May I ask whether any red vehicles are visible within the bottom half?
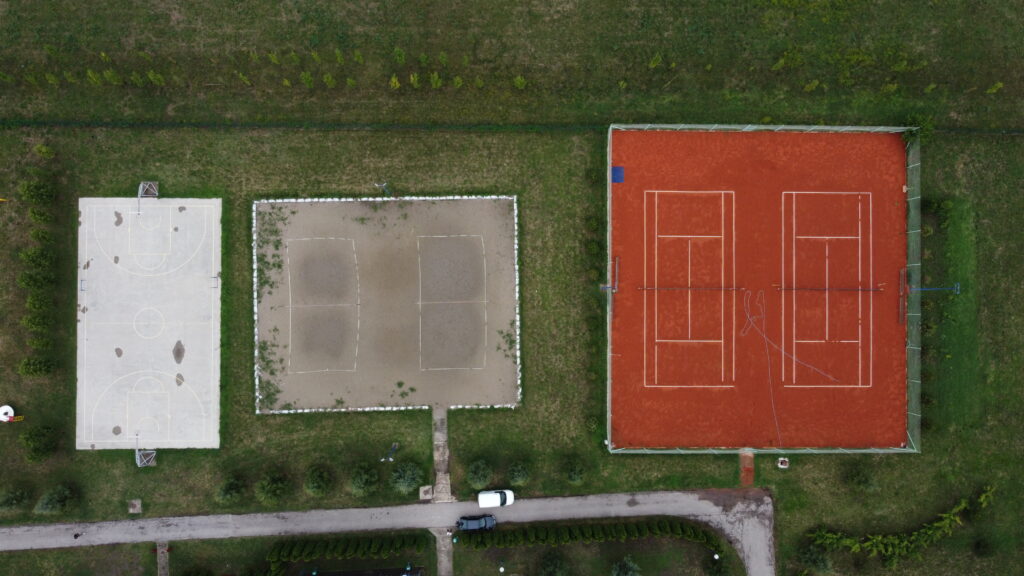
No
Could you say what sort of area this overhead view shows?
sports ground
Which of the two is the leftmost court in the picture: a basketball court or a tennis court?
basketball court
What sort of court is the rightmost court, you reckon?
tennis court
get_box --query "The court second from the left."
[254,198,390,413]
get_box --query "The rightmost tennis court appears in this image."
[759,130,908,448]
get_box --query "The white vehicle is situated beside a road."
[476,488,514,507]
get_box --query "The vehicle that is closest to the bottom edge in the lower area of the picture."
[459,514,496,531]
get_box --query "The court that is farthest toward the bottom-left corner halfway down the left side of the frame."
[76,198,221,449]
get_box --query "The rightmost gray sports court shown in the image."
[388,196,520,409]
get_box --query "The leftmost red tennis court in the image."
[608,130,759,448]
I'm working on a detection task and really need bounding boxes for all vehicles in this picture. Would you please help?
[459,514,496,531]
[476,488,514,507]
